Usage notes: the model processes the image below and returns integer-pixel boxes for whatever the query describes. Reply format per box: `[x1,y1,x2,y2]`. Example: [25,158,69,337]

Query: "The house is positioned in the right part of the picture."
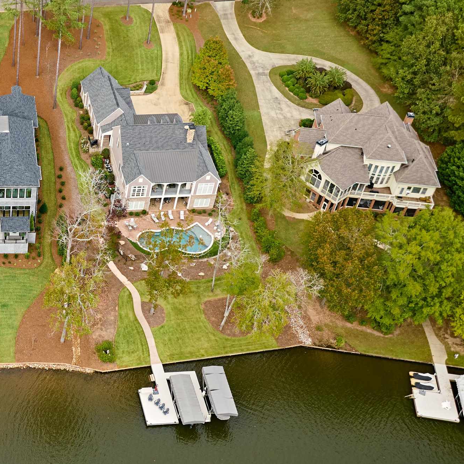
[289,98,441,221]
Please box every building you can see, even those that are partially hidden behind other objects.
[289,98,441,221]
[81,76,223,212]
[0,84,43,220]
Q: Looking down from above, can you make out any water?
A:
Yes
